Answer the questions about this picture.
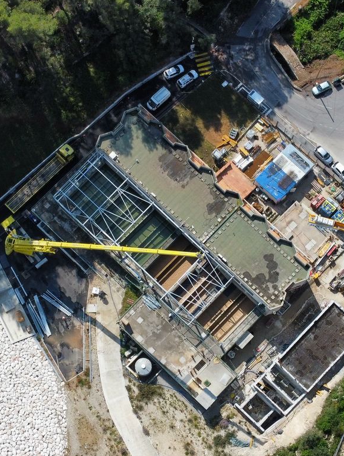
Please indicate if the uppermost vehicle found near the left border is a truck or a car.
truck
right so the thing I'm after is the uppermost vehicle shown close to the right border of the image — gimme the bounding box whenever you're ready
[310,79,334,97]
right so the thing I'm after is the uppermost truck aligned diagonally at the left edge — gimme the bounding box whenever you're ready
[6,138,79,213]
